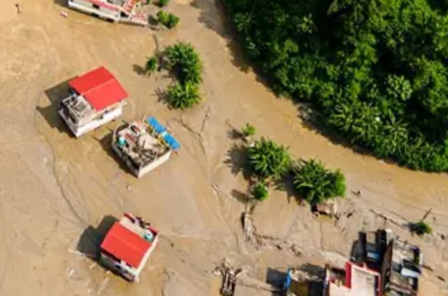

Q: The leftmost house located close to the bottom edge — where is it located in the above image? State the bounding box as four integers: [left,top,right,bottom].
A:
[98,208,166,282]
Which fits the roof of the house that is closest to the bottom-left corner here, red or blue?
red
